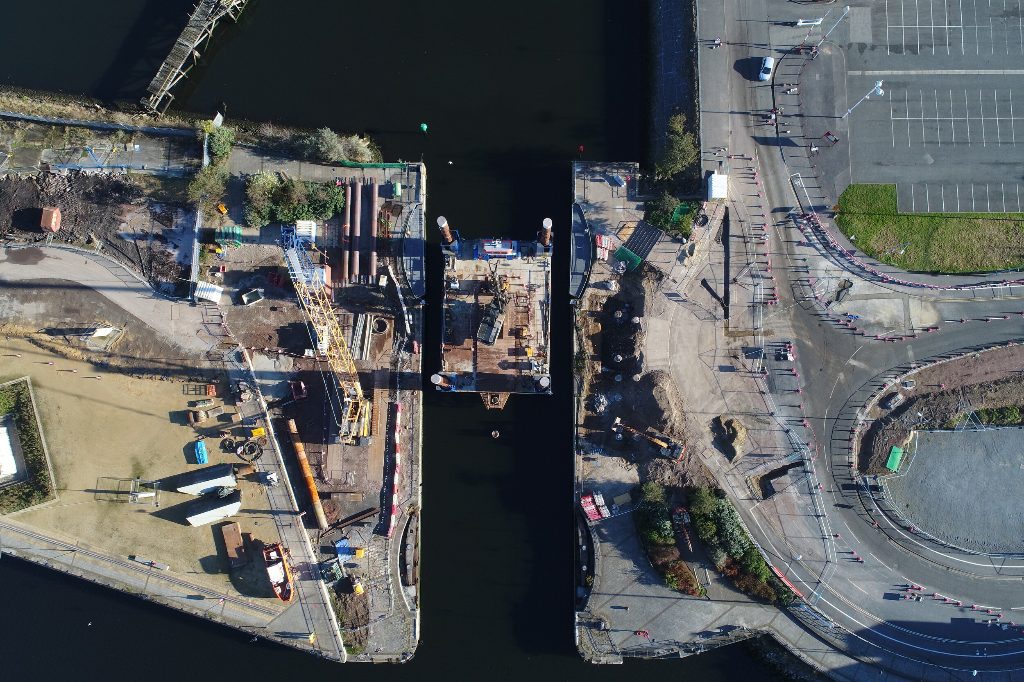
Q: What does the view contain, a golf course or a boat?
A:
boat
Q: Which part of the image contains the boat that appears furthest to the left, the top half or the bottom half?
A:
bottom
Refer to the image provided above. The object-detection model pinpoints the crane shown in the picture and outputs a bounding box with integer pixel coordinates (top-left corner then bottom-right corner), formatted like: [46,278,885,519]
[279,223,381,447]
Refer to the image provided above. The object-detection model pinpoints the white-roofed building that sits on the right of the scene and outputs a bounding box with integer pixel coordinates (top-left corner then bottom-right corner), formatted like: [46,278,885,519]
[709,174,727,202]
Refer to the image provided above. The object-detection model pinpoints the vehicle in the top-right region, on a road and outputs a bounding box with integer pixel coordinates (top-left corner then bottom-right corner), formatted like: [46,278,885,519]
[760,53,776,80]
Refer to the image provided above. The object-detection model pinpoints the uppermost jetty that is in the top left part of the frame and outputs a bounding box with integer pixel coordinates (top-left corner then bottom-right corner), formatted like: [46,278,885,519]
[140,0,251,114]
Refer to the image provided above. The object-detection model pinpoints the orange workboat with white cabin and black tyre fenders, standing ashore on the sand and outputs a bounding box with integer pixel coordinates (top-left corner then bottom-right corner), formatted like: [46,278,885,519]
[263,542,294,603]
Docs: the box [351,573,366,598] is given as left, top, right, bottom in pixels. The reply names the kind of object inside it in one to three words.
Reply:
vehicle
